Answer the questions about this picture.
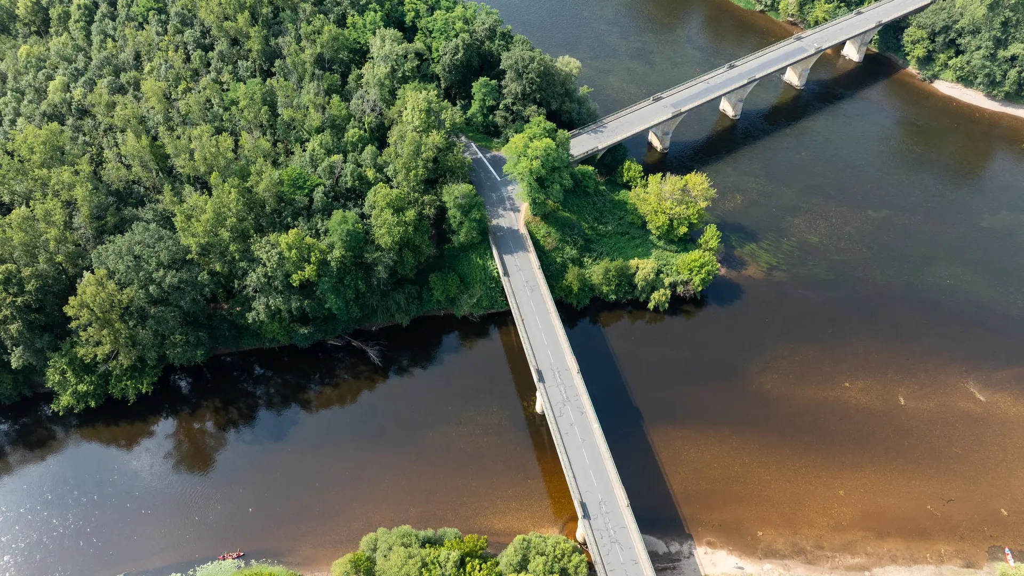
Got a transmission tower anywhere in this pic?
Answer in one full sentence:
No, the picture doesn't show any transmission tower.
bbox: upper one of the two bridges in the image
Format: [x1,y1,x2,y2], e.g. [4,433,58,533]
[552,0,936,162]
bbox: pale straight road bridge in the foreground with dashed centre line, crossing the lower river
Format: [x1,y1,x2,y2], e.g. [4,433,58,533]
[489,227,654,576]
